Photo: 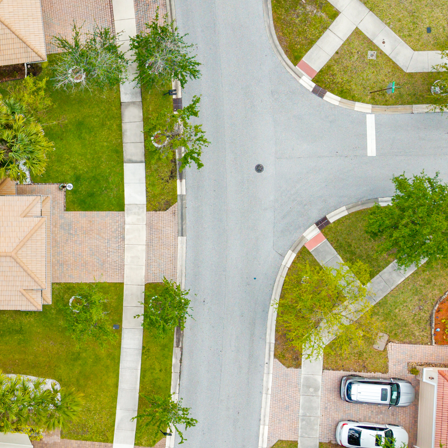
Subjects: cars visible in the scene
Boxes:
[332,417,407,448]
[336,372,414,411]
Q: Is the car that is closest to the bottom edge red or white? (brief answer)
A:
white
